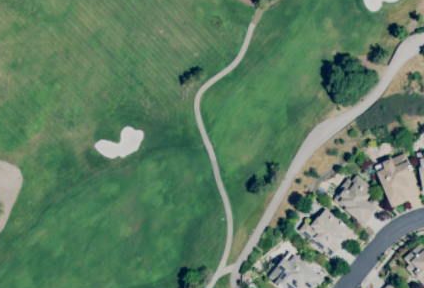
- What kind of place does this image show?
golf course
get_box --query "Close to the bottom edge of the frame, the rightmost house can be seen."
[403,246,424,286]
